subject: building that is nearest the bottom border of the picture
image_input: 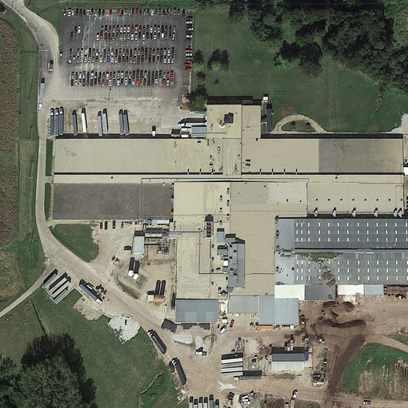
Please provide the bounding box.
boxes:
[271,353,304,371]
